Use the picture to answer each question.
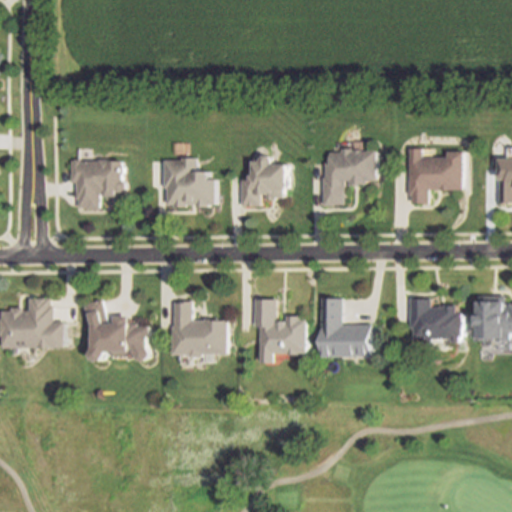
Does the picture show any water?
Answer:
No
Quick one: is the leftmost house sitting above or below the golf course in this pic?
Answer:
above it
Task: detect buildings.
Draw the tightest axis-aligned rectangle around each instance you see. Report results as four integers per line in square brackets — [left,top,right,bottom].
[171,302,230,356]
[321,141,378,206]
[254,299,309,364]
[408,297,464,342]
[86,301,148,363]
[240,156,288,207]
[164,142,218,210]
[0,298,65,349]
[468,295,512,345]
[71,160,126,210]
[314,298,374,357]
[496,146,512,204]
[407,148,466,204]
